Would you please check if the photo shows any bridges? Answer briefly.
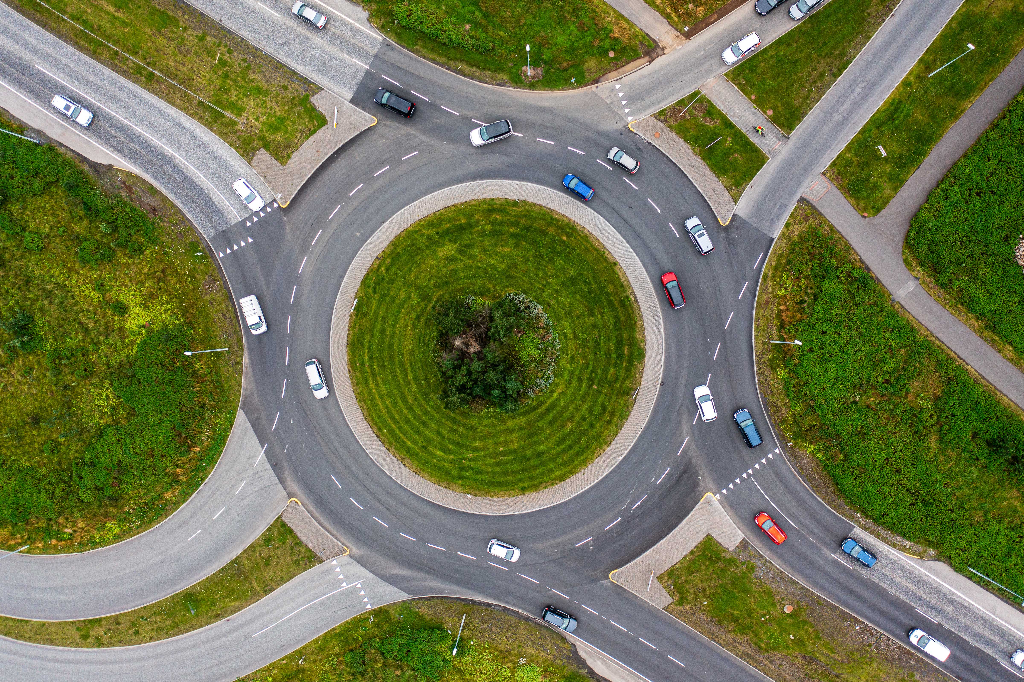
No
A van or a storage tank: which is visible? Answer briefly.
van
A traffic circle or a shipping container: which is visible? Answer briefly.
traffic circle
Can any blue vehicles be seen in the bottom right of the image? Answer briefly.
Yes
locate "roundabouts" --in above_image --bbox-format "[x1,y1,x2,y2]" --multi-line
[219,69,873,605]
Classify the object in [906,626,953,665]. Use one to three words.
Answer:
van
